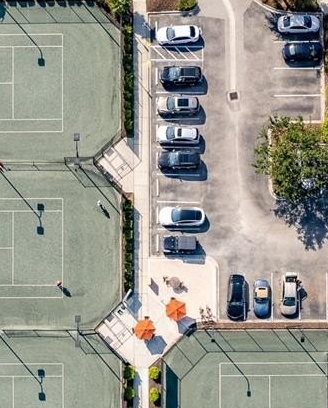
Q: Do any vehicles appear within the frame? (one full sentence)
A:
Yes, looking at the shot, I can spot a vehicle.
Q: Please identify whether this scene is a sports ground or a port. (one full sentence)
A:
The area seen from above is a sports ground.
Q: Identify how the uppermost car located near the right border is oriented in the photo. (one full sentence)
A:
The uppermost car located near the right border has been laid out horizontally relative to the frame.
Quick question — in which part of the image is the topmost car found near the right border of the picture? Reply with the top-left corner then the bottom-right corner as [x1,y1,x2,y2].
[276,14,320,37]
